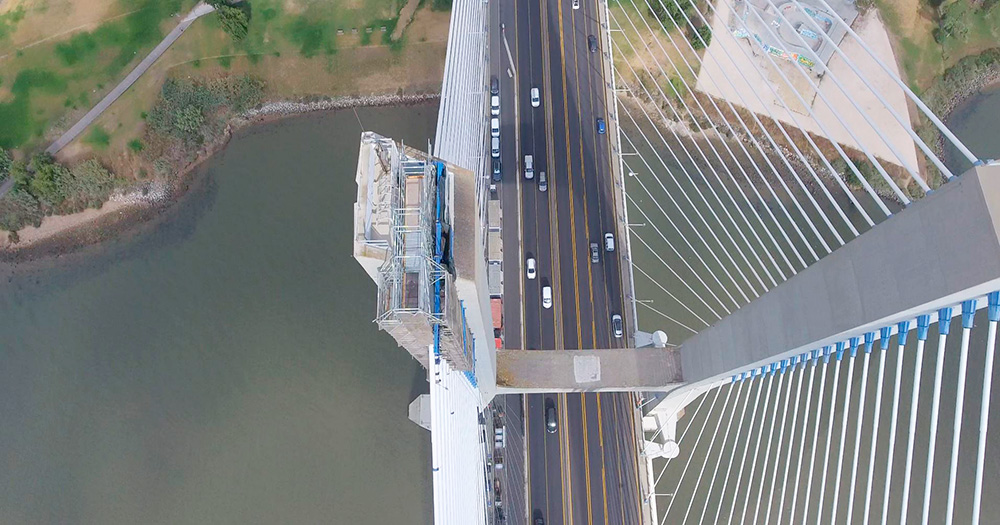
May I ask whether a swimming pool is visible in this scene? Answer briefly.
No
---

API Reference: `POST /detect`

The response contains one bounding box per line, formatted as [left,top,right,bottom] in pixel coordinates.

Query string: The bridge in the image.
[349,0,1000,525]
